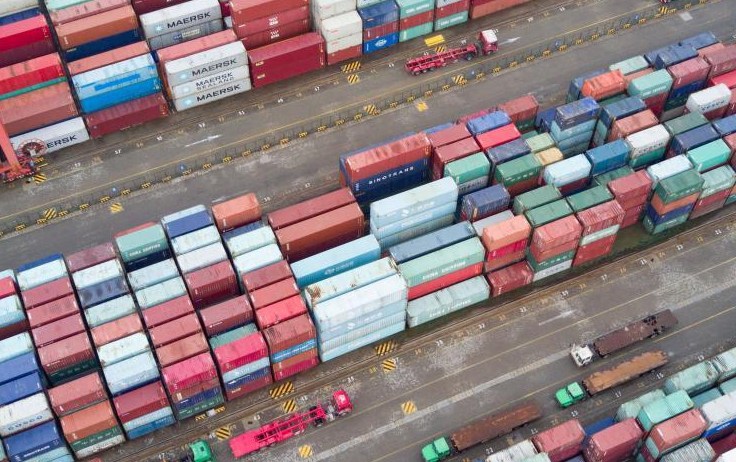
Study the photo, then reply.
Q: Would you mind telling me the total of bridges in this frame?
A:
zero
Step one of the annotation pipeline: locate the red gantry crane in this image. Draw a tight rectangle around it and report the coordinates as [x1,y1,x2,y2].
[0,106,47,178]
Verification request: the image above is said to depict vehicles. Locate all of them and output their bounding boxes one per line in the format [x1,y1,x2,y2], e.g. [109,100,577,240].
[405,31,502,78]
[417,401,542,462]
[180,440,214,462]
[229,389,356,458]
[550,348,671,413]
[563,309,680,371]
